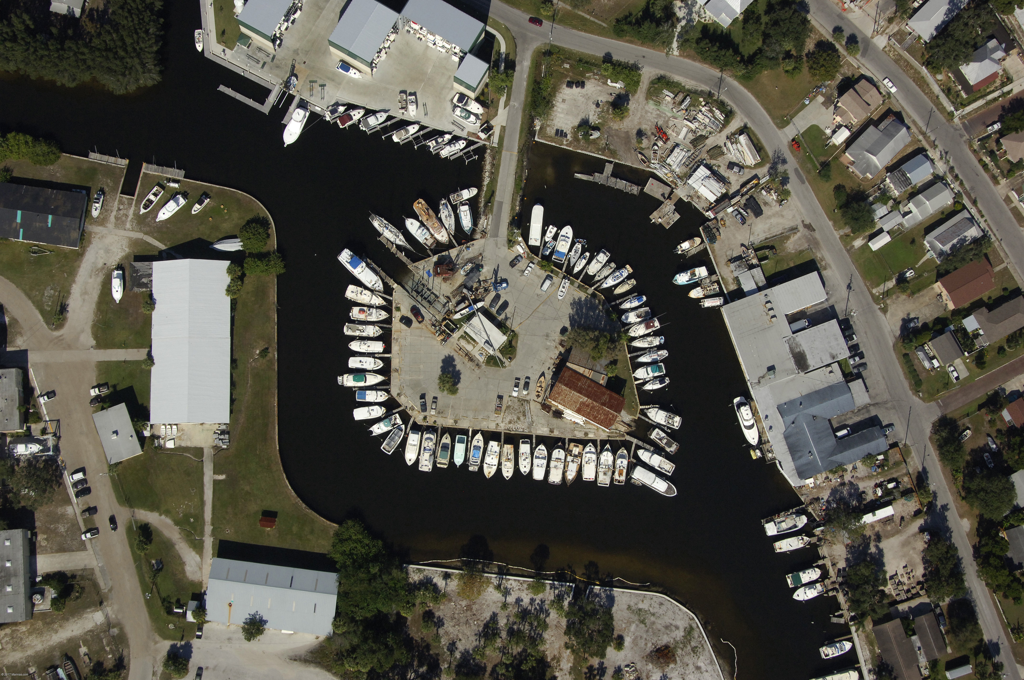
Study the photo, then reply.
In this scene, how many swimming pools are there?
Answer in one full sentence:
There are no swimming pools in this view.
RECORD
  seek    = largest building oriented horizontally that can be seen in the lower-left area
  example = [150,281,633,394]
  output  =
[206,558,339,635]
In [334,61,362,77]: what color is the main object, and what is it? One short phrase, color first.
white boat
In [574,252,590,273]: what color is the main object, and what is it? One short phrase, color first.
white boat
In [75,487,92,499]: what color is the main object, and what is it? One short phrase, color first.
black vehicle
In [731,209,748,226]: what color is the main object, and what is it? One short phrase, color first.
gray vehicle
